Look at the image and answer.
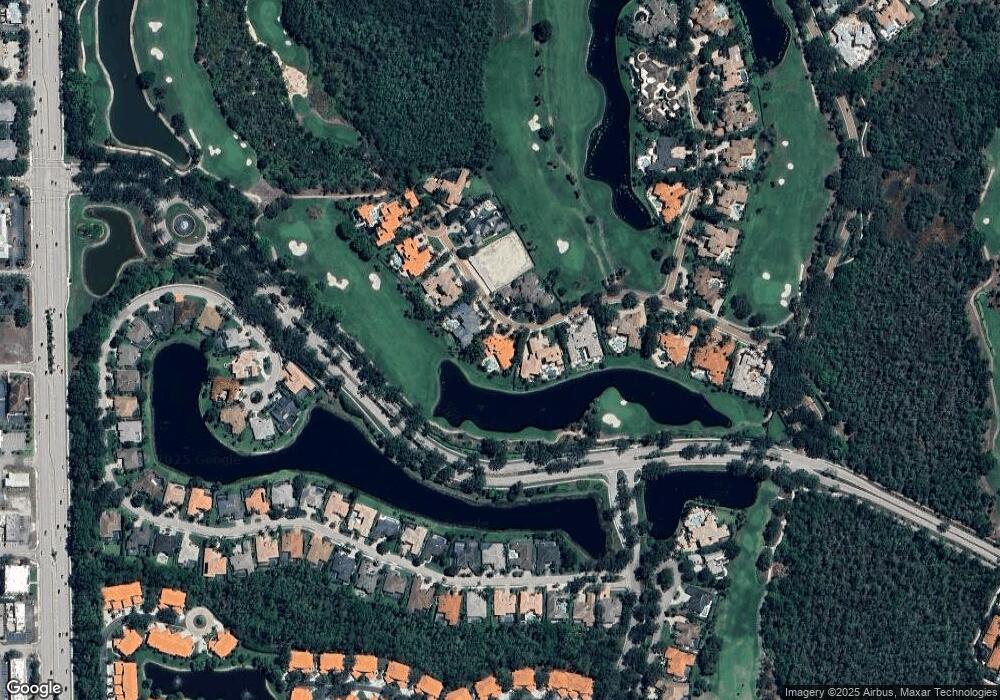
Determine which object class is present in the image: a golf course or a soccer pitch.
golf course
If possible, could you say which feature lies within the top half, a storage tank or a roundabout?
roundabout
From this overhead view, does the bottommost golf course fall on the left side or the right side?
right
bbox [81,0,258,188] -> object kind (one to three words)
golf course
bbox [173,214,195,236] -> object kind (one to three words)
fountain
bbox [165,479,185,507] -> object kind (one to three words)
house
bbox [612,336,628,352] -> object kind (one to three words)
swimming pool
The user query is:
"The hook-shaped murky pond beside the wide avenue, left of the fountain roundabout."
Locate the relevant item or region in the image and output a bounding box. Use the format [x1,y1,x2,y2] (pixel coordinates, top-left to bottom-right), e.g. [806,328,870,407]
[83,206,142,296]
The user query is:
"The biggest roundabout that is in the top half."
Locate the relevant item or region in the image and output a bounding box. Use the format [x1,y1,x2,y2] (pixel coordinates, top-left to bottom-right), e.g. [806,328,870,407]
[158,196,214,252]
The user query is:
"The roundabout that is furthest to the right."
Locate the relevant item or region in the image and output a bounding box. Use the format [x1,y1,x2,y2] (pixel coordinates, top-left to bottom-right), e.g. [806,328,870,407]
[242,383,271,411]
